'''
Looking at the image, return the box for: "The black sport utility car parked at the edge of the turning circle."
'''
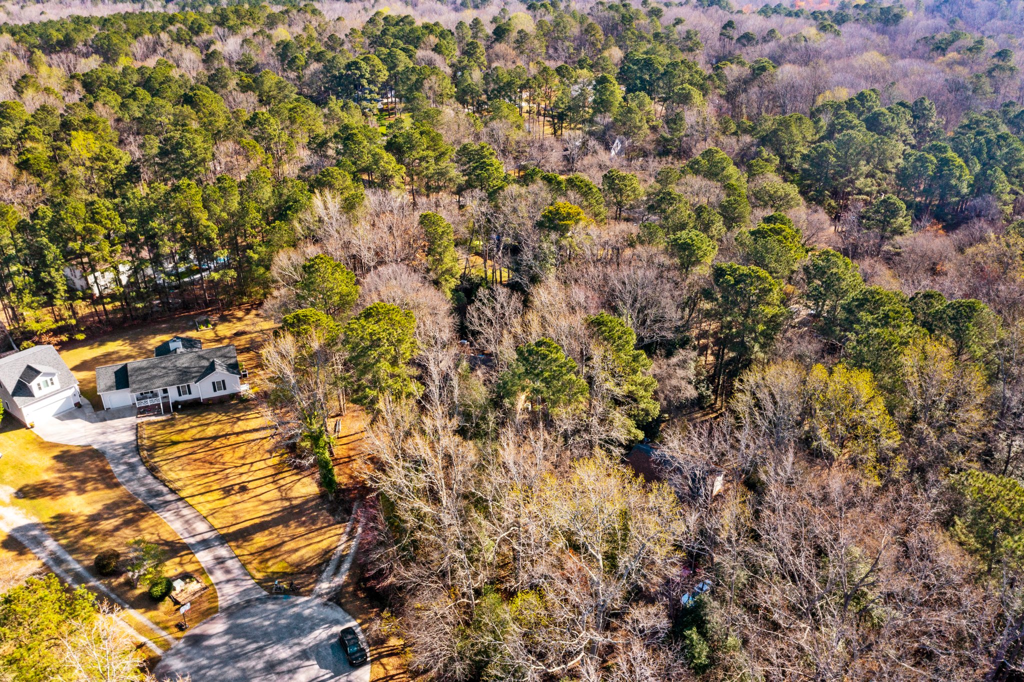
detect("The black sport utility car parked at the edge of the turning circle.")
[337,623,368,670]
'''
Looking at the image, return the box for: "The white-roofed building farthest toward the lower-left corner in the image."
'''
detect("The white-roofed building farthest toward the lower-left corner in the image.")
[0,340,82,426]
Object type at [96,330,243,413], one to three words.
house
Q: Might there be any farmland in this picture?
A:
No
